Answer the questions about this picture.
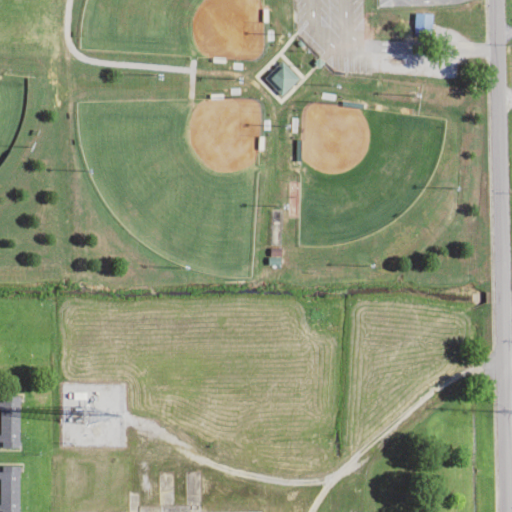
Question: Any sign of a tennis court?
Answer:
No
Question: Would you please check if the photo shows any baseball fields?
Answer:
Yes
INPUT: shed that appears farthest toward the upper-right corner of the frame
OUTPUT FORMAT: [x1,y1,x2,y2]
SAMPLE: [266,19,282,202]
[414,13,434,34]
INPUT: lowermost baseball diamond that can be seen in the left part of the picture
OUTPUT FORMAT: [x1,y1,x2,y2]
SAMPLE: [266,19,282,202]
[76,98,265,280]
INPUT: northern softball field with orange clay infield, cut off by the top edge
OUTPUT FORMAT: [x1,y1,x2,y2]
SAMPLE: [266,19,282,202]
[80,0,268,61]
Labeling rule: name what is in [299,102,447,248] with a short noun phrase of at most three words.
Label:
baseball field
